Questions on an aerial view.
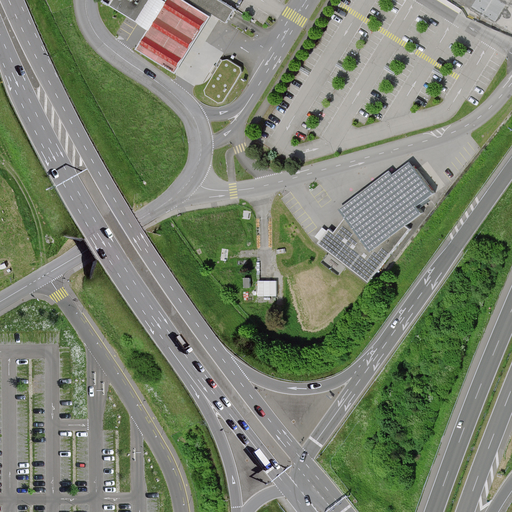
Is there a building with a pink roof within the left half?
Yes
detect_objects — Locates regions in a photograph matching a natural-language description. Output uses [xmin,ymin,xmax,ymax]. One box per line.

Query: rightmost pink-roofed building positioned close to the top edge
[136,0,209,72]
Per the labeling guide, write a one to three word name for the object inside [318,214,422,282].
building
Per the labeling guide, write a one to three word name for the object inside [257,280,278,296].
shed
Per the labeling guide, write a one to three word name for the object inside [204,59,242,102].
building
